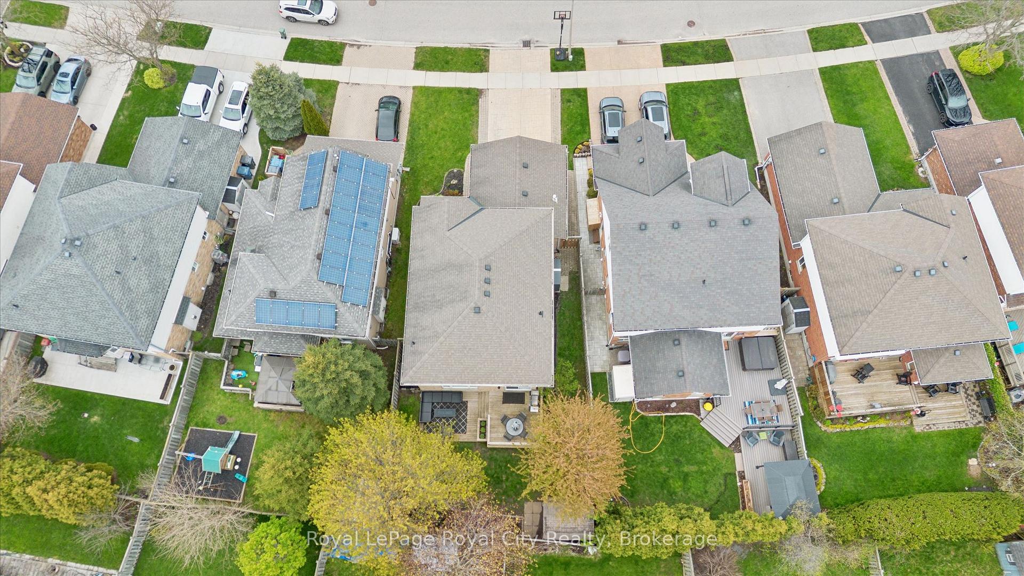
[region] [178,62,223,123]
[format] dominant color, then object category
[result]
white truck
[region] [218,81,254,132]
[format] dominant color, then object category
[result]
white car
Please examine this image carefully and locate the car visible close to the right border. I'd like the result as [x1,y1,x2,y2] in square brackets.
[928,66,975,128]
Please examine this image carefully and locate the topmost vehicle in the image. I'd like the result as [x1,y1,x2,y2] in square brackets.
[277,0,340,26]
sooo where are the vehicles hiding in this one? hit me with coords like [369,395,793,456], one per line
[218,81,254,132]
[374,96,402,142]
[178,62,223,123]
[277,0,340,26]
[50,54,93,106]
[638,91,674,140]
[928,66,975,128]
[599,98,628,145]
[14,45,62,97]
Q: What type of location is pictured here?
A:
residential area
